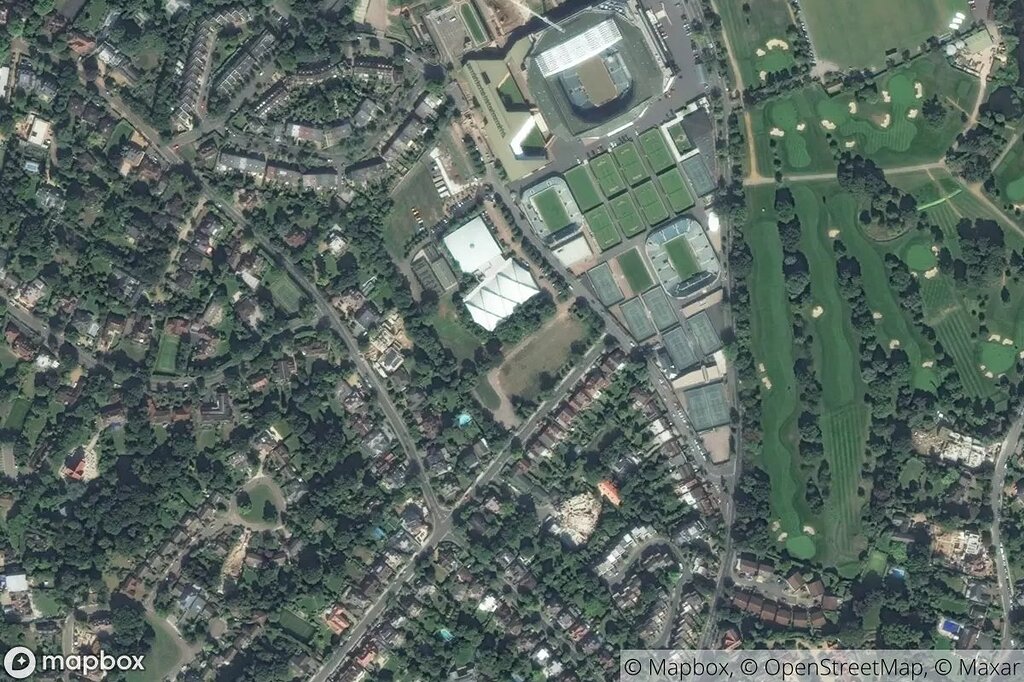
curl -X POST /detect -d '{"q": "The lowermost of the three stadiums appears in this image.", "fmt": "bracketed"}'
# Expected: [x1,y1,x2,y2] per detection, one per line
[645,215,722,299]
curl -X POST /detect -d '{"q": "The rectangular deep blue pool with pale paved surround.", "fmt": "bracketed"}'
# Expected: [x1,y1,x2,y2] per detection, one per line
[942,619,960,635]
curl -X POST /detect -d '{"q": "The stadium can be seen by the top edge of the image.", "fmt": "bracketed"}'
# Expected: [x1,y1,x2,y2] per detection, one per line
[526,6,667,137]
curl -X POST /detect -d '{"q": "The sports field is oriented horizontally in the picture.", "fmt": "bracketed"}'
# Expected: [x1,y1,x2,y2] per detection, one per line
[808,0,975,68]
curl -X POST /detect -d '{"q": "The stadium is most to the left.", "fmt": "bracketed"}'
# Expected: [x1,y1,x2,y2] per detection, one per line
[520,176,584,246]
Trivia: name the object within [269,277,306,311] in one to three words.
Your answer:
tennis court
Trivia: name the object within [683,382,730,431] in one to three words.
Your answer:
tennis court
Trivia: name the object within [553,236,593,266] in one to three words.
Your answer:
building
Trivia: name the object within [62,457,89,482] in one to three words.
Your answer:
house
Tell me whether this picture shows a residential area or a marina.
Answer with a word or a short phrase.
residential area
